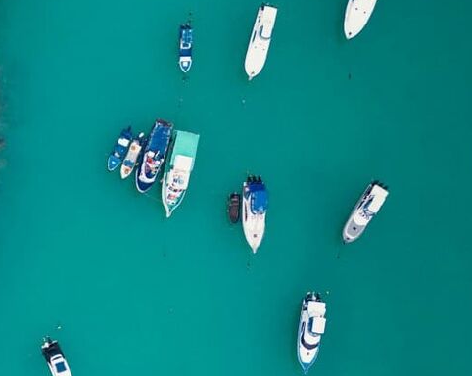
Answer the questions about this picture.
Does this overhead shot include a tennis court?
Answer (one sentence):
No, no tennis court can be seen from above.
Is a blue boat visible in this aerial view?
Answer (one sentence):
Yes, I can see a blue boat in this picture.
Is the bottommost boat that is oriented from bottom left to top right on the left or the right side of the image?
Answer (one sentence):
You can find the bottommost boat that is oriented from bottom left to top right on the right side of the picture.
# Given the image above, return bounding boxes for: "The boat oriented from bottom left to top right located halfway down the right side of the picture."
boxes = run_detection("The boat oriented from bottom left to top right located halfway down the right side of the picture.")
[342,180,393,244]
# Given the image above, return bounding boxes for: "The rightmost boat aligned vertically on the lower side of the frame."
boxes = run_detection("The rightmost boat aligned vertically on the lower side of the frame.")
[298,295,327,376]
